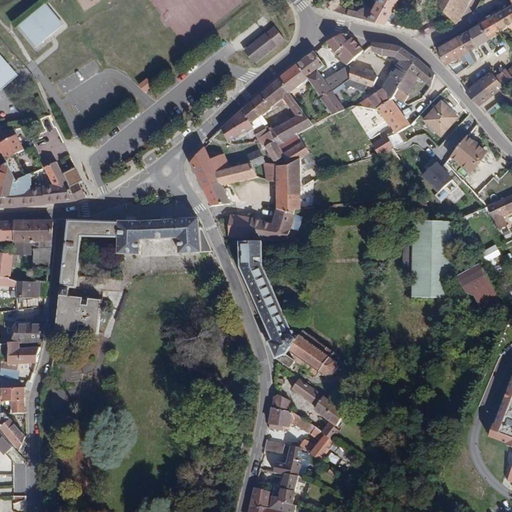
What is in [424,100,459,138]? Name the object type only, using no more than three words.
house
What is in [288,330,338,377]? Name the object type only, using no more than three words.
building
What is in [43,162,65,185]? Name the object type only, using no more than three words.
house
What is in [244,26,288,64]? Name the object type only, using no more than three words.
barn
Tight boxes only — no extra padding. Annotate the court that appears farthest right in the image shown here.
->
[151,0,244,37]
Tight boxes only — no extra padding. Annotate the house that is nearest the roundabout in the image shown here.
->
[188,146,232,205]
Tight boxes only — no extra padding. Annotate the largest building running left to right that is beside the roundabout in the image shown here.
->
[116,216,200,254]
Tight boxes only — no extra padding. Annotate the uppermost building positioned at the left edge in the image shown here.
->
[12,0,63,47]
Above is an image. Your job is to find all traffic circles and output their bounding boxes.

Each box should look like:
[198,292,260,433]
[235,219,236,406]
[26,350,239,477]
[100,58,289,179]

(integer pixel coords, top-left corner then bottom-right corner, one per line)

[142,150,186,194]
